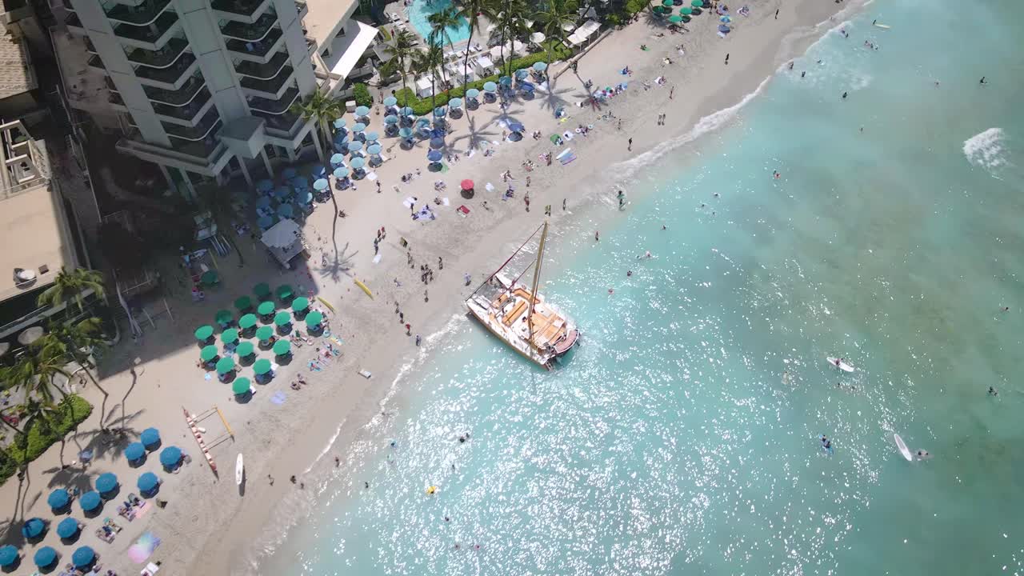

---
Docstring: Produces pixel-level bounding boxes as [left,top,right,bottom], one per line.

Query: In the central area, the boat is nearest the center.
[464,224,581,370]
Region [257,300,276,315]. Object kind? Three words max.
umbrella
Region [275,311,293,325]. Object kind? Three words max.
umbrella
